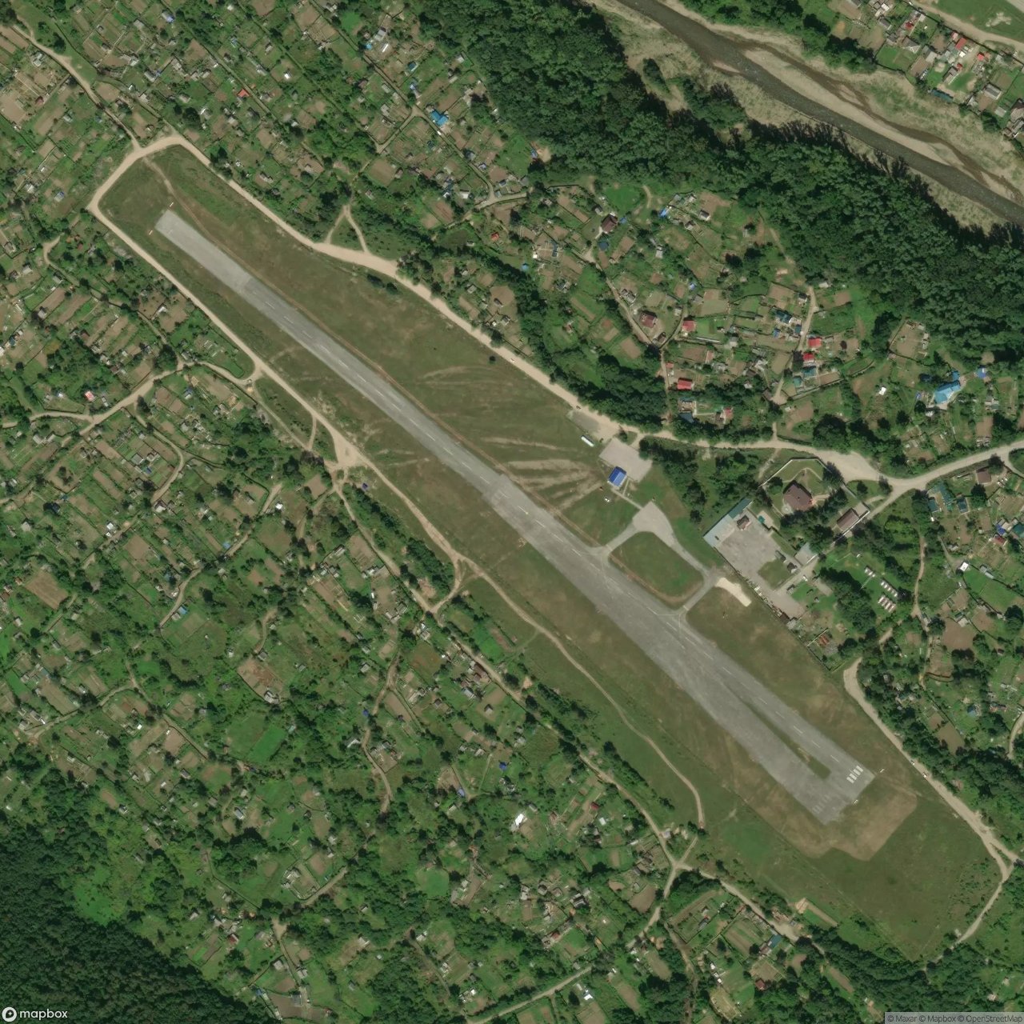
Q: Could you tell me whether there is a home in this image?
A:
Yes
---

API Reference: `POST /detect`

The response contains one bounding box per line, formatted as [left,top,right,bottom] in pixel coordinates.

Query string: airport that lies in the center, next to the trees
[98,145,999,960]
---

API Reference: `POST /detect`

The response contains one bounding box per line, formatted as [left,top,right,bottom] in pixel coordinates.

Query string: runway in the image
[155,210,874,825]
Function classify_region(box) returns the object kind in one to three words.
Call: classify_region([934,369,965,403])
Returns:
house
